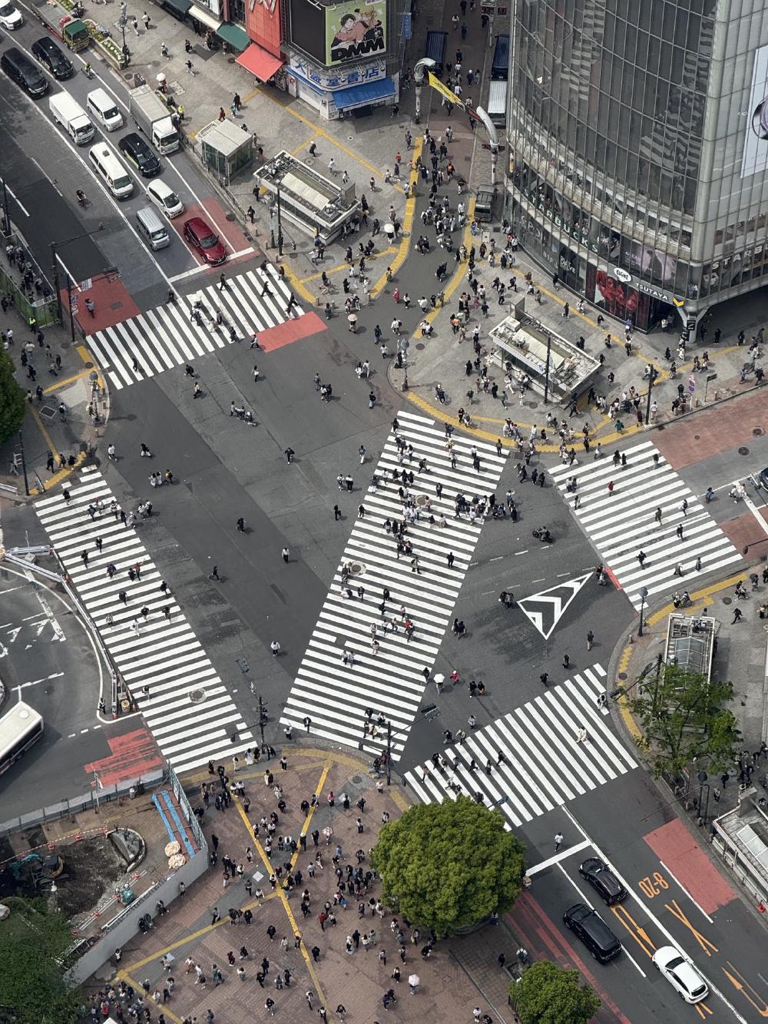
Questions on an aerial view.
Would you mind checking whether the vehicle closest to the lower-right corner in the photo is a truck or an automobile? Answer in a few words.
automobile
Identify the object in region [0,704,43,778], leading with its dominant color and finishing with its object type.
white bus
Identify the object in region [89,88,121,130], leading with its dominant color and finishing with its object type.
white van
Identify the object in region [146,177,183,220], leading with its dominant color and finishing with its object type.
white car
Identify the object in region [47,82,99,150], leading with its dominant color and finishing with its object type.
white truck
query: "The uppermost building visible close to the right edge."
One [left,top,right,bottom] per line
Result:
[498,0,768,350]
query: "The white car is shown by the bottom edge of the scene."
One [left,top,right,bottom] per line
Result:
[653,945,710,1007]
